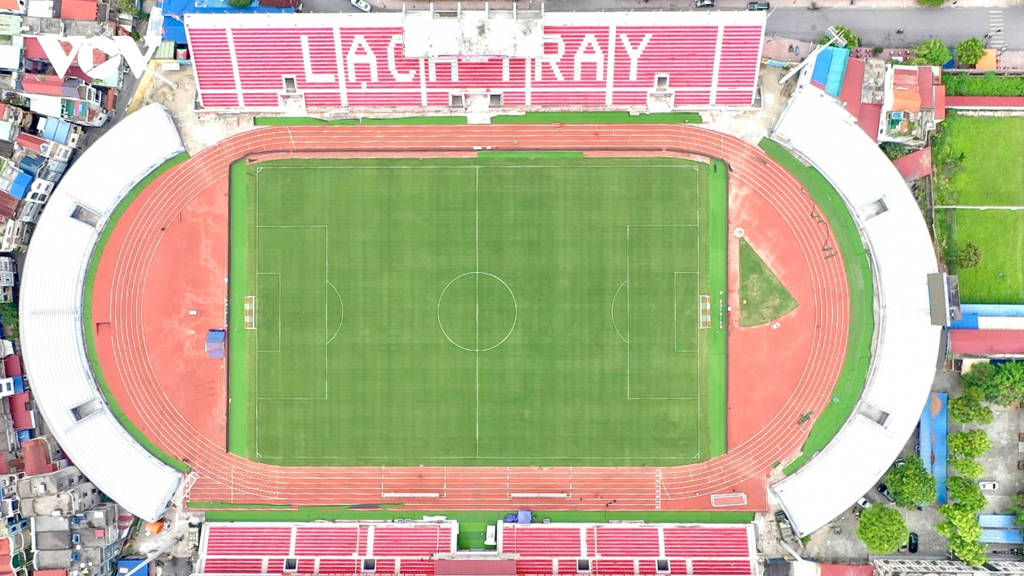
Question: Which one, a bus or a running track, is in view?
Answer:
running track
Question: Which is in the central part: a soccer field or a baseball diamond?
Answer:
soccer field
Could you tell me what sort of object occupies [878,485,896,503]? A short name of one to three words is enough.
car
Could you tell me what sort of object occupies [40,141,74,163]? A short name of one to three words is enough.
house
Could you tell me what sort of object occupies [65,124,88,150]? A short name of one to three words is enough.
house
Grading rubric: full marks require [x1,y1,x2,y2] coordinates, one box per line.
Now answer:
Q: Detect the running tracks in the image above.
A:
[92,124,851,510]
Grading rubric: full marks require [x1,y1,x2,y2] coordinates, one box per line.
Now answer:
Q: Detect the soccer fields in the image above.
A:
[248,158,710,466]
